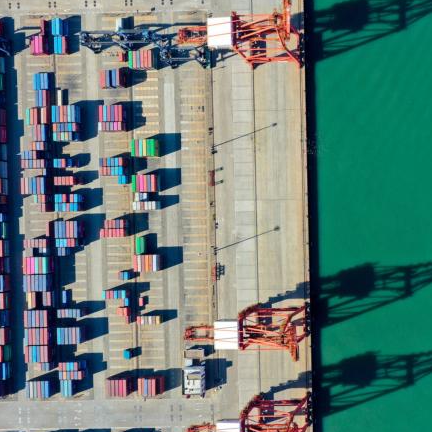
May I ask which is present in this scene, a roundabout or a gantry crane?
gantry crane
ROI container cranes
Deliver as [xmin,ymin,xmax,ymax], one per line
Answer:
[184,297,309,373]
[155,45,219,75]
[178,0,304,78]
[78,29,169,60]
[185,386,311,432]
